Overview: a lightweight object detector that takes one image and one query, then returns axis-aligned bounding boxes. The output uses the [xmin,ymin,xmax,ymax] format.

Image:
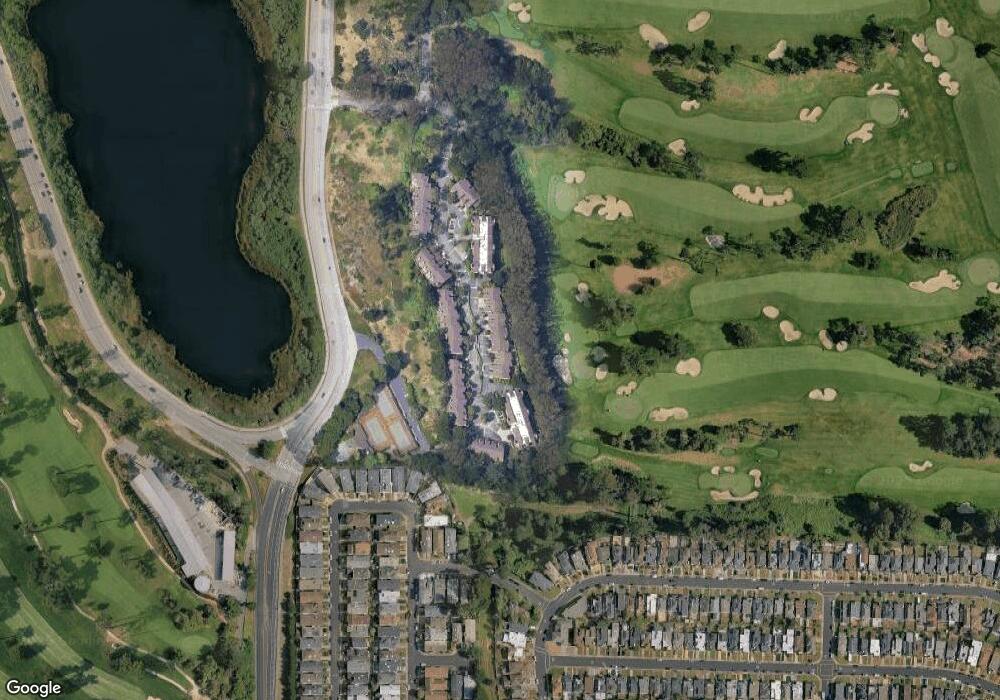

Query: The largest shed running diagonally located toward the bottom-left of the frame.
[131,472,206,583]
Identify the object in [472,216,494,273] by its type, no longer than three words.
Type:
building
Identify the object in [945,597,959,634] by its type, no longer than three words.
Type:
house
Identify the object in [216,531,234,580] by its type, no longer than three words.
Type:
shed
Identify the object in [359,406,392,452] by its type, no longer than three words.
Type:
tennis court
